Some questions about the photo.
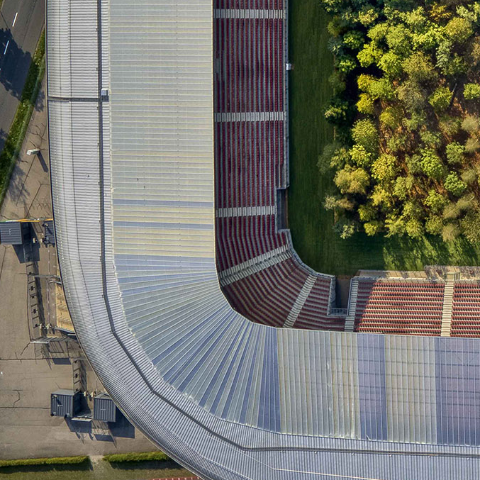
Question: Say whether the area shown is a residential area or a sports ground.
sports ground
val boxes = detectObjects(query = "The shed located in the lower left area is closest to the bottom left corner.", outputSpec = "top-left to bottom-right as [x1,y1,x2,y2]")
[52,391,80,416]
